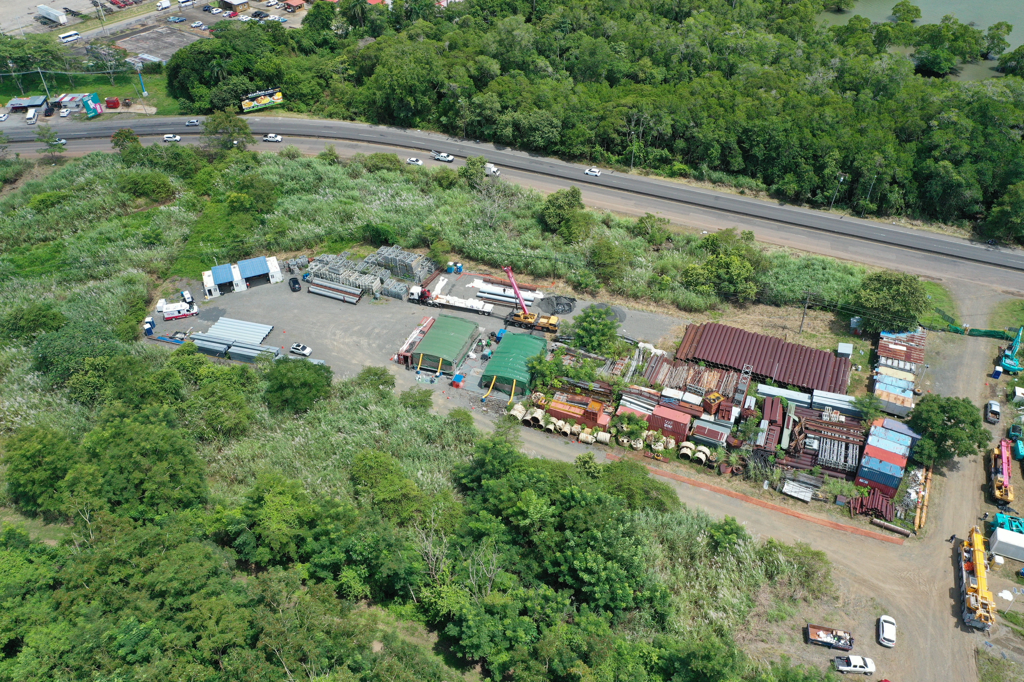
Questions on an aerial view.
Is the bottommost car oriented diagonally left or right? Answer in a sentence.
The bottommost car oriented diagonally sits on the right side.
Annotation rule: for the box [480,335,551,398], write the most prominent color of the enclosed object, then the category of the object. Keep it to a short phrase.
green tent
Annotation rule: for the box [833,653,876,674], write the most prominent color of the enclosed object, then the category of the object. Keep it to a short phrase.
white truck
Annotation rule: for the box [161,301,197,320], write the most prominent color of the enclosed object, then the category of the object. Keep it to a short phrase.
white vehicle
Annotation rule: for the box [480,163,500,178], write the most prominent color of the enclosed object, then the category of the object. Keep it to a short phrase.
white vehicle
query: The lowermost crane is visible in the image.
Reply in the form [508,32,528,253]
[962,526,994,621]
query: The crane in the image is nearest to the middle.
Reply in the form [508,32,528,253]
[502,261,563,333]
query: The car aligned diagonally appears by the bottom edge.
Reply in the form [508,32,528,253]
[875,616,901,648]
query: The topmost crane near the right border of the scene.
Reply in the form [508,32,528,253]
[988,433,1018,502]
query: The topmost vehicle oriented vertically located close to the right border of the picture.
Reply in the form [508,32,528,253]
[998,341,1019,386]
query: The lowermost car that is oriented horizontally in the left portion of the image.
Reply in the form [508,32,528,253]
[288,342,313,356]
